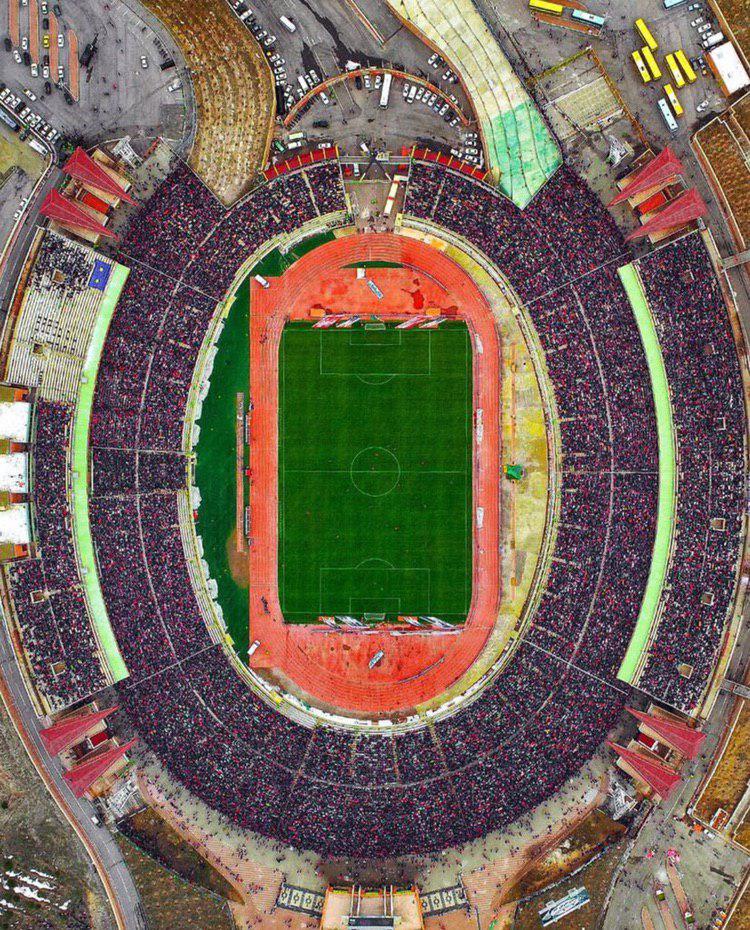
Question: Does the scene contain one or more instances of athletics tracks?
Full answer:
Yes, an athletics track can be made out from above.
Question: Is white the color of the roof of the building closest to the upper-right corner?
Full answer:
Yes, the roof of the building closest to the upper-right corner appears white.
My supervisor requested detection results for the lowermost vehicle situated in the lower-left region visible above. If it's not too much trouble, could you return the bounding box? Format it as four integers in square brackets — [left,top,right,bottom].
[88,812,103,828]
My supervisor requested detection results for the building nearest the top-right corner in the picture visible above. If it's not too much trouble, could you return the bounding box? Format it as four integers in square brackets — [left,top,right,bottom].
[702,42,750,104]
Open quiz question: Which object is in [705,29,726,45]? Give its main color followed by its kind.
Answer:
white vehicle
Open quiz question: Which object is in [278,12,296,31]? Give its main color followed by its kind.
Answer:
white vehicle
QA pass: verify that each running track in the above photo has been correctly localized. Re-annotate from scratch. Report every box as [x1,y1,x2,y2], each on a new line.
[250,235,500,714]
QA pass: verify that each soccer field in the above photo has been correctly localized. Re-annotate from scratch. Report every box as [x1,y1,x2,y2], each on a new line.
[281,322,472,622]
